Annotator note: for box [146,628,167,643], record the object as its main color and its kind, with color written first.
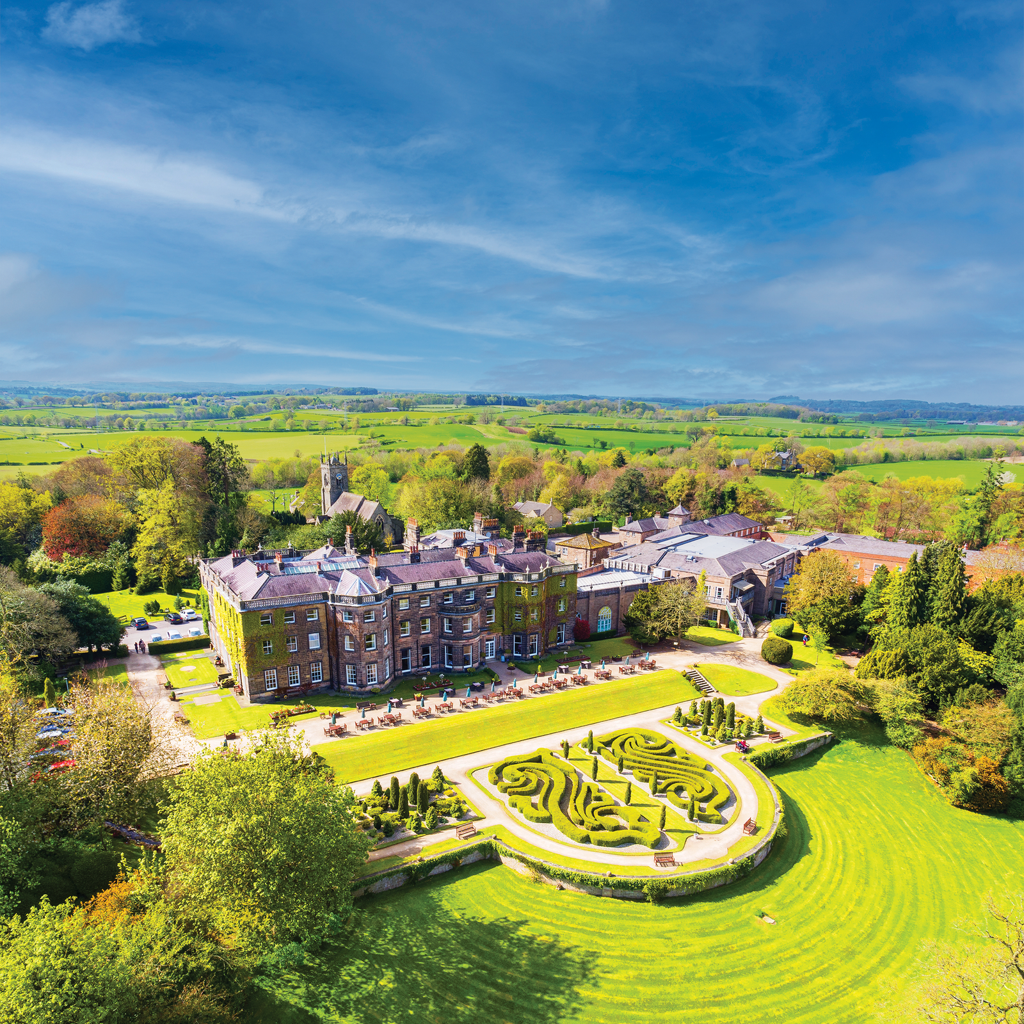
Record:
white car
